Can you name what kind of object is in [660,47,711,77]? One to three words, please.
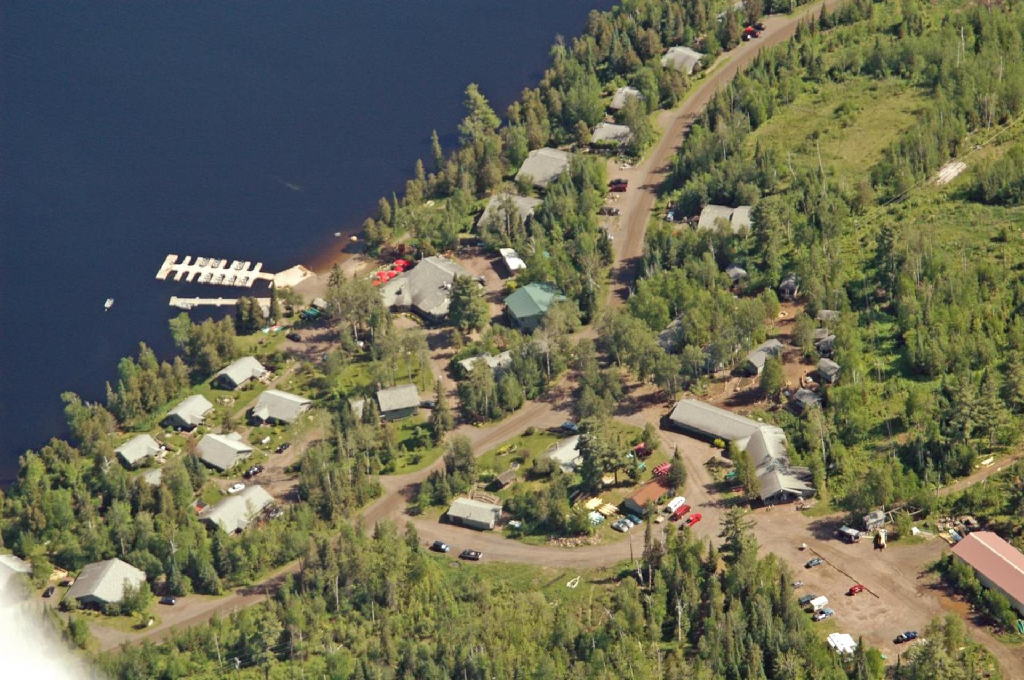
building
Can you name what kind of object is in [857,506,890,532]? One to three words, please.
shed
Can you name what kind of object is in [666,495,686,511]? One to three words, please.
vehicle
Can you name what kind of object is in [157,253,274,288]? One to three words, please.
pier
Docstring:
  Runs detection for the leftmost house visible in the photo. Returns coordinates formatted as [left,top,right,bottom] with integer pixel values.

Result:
[0,556,37,600]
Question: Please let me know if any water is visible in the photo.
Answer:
Yes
